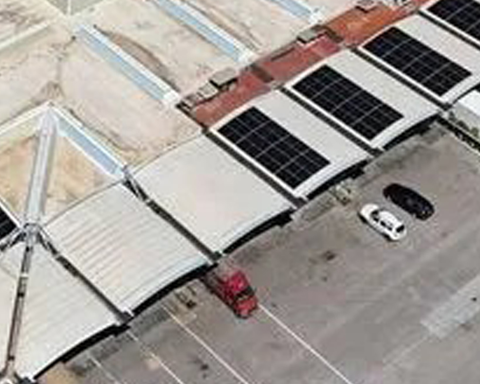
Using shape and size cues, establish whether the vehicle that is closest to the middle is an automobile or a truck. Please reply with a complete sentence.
I'd identify the vehicle that is closest to the middle as a truck.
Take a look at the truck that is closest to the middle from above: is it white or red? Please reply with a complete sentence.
The truck that is closest to the middle looks red in the image.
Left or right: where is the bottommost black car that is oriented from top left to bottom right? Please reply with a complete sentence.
It is on the right.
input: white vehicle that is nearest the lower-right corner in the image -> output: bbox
[361,202,406,236]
